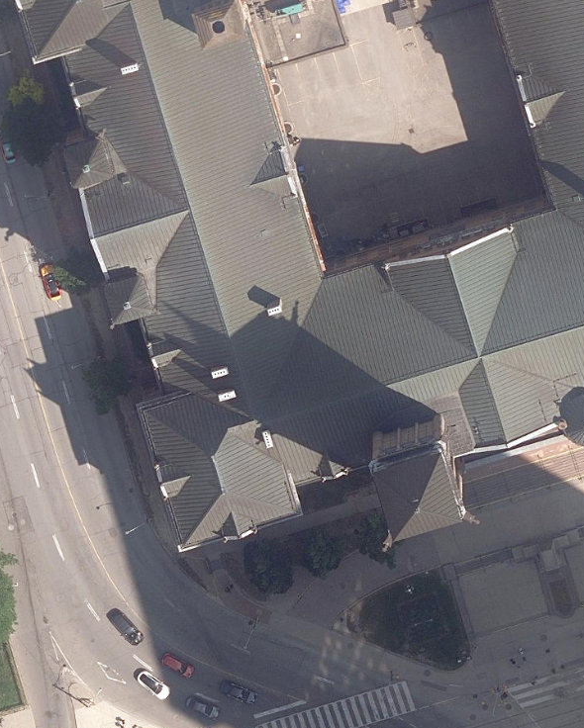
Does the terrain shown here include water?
No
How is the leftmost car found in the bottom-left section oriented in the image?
on a diagonal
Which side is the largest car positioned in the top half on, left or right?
left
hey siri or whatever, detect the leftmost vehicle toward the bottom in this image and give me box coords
[107,609,142,646]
